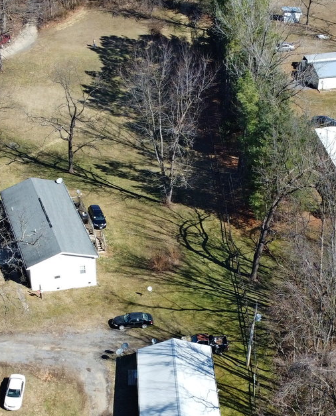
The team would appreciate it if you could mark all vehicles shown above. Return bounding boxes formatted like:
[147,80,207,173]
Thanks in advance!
[110,312,153,331]
[89,203,108,230]
[273,42,296,51]
[184,330,236,352]
[310,114,336,127]
[0,376,21,415]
